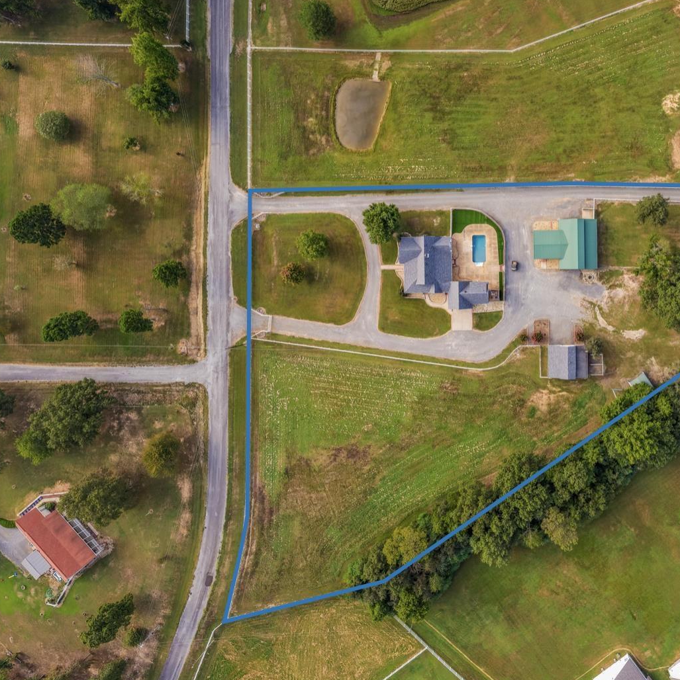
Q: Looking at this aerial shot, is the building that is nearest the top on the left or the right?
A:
right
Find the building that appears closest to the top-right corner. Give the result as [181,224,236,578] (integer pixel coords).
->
[533,218,598,270]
